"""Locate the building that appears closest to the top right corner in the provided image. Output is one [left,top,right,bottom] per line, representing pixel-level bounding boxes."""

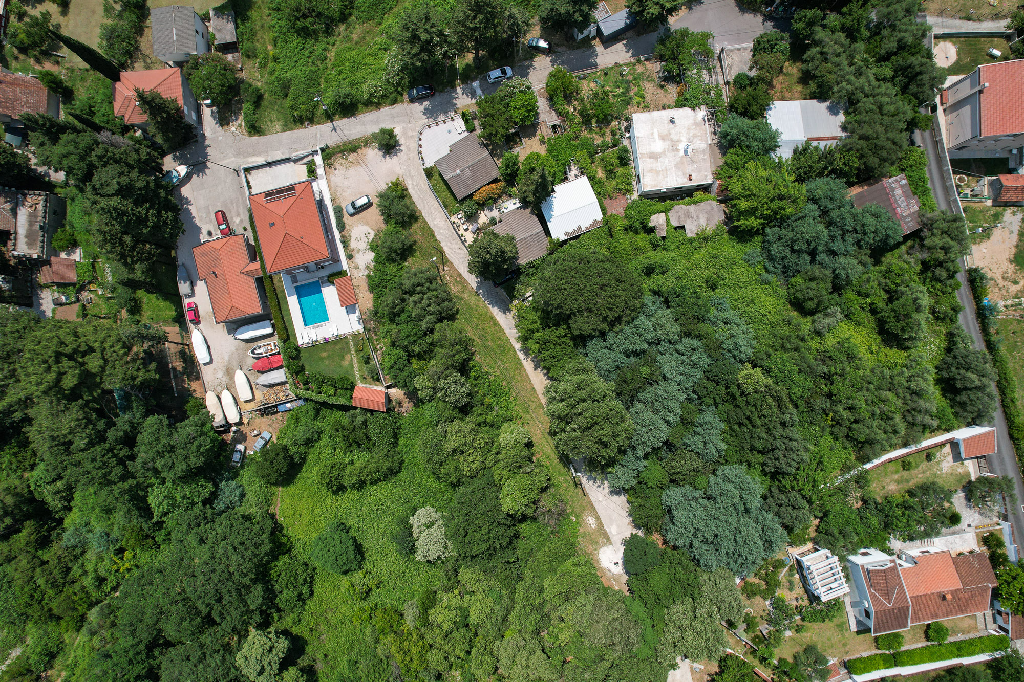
[943,59,1024,150]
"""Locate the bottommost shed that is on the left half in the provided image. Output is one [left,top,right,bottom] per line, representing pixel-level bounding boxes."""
[352,386,387,412]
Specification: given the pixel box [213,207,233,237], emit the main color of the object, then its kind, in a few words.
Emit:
red car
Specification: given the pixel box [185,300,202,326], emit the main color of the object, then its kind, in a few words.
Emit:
red car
